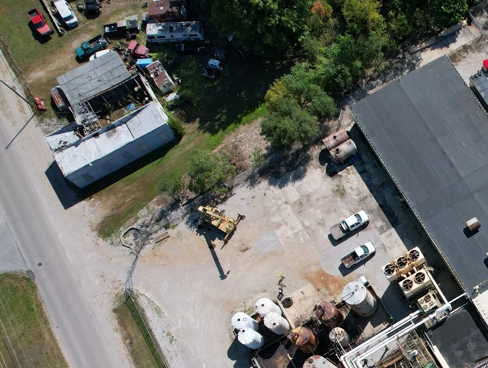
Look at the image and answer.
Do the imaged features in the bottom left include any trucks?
No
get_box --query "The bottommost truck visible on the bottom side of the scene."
[341,245,378,271]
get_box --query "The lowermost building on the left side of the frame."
[42,99,181,188]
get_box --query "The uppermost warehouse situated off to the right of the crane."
[349,54,488,303]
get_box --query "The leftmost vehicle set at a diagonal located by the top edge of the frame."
[25,7,56,38]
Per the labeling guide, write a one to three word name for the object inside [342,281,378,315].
storage tank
